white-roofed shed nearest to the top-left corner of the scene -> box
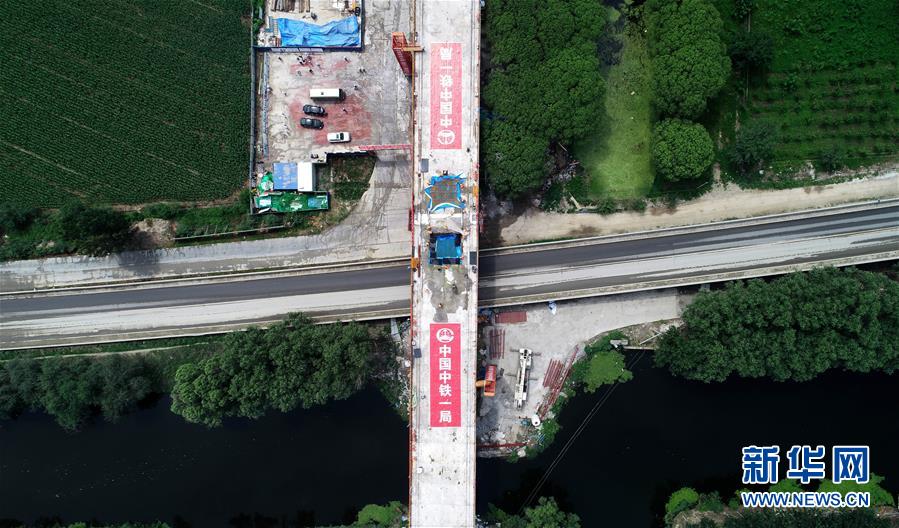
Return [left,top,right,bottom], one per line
[298,162,318,192]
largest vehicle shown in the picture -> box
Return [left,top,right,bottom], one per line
[309,88,345,102]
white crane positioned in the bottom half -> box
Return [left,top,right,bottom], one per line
[506,351,541,410]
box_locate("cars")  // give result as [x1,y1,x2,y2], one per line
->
[300,119,324,129]
[327,132,350,142]
[303,105,326,116]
